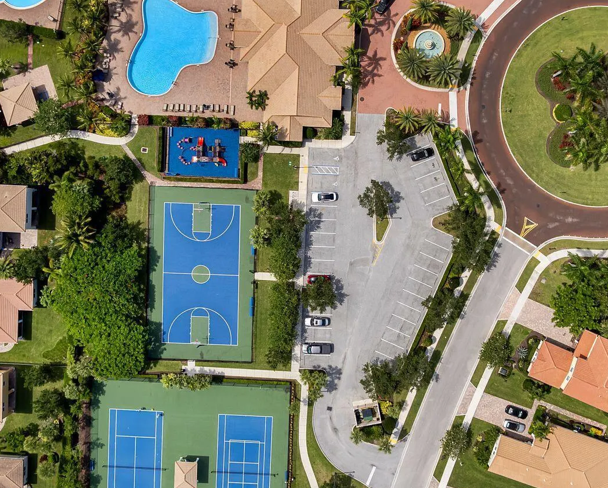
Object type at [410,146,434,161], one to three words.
car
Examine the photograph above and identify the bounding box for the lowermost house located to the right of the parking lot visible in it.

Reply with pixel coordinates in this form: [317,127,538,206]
[487,425,608,488]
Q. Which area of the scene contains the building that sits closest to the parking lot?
top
